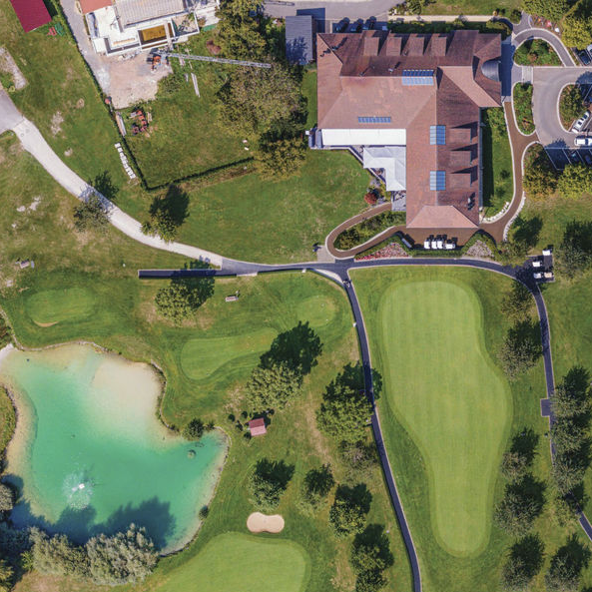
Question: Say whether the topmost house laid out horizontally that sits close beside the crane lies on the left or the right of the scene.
left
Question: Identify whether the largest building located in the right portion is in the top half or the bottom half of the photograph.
top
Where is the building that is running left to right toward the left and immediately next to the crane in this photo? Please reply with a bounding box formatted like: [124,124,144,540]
[80,0,219,58]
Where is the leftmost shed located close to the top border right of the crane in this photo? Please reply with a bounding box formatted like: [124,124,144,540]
[285,15,312,65]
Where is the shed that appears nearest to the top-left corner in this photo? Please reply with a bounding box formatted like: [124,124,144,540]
[10,0,53,33]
